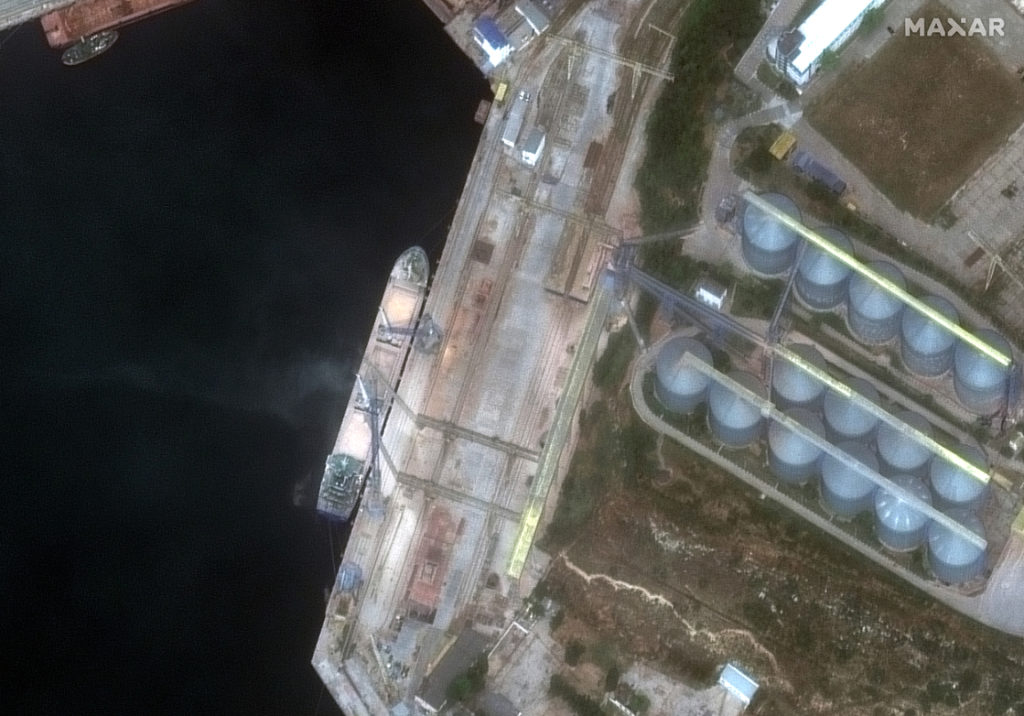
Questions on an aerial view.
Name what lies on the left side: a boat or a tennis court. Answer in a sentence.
You can see a boat on the left side.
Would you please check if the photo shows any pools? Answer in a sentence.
No, no pool is visible in the scene.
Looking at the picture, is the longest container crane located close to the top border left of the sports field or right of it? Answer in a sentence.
Compared with the sports field, the longest container crane located close to the top border is located further to the left.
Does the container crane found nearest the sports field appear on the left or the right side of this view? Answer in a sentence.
You can find the container crane found nearest the sports field on the right side of the picture.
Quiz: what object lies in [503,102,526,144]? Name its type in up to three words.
shed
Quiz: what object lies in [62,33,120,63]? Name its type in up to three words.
boat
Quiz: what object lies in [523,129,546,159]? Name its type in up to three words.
building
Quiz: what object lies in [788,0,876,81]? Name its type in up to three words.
building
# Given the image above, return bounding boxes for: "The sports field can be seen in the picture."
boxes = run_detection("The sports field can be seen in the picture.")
[804,0,1024,220]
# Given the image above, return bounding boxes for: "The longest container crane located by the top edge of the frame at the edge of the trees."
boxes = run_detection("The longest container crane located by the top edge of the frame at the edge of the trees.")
[545,32,676,91]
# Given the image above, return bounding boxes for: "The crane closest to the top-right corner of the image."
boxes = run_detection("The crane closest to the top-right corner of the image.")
[966,230,1024,293]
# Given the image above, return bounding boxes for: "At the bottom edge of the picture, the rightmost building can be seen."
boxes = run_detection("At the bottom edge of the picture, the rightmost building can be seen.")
[720,663,758,702]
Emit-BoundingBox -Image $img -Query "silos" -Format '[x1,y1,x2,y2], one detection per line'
[922,509,986,586]
[948,331,1012,411]
[869,476,933,553]
[816,442,879,520]
[737,194,800,275]
[705,372,766,450]
[769,345,828,416]
[819,379,881,450]
[763,409,826,487]
[791,229,854,310]
[926,446,988,516]
[873,413,935,483]
[896,297,960,378]
[651,339,714,417]
[843,263,907,344]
